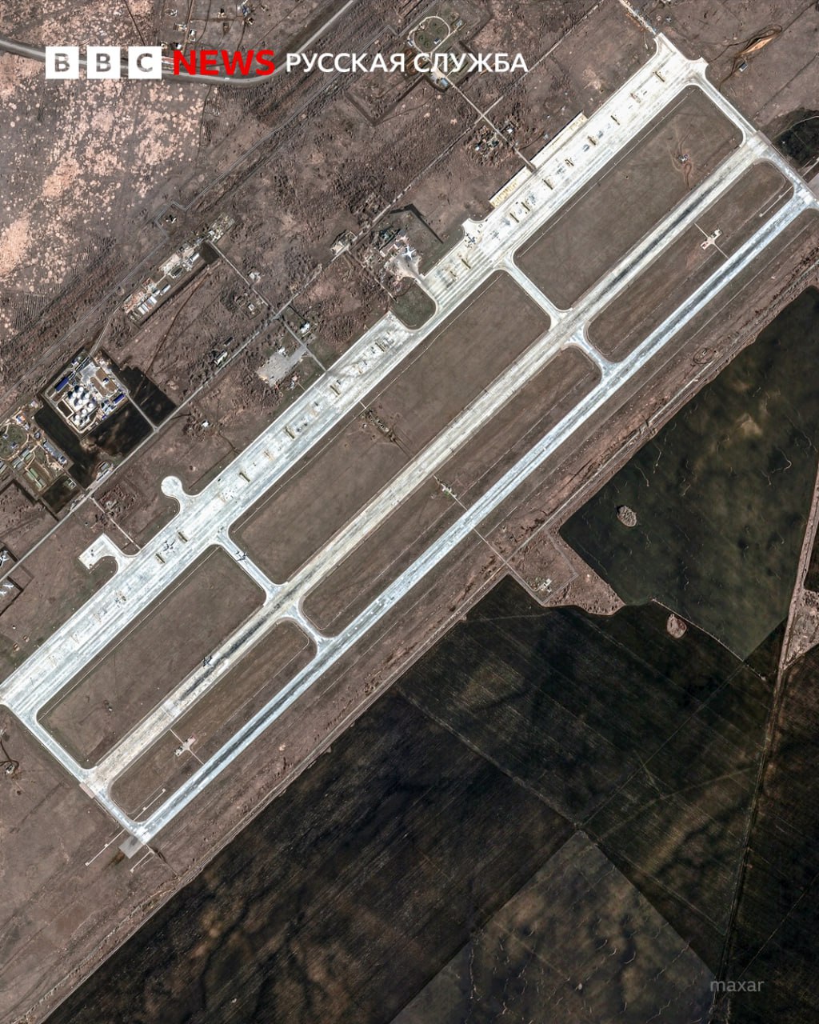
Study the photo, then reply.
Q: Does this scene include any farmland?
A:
Yes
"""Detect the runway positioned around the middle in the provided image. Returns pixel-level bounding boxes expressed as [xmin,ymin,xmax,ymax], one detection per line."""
[85,132,769,787]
